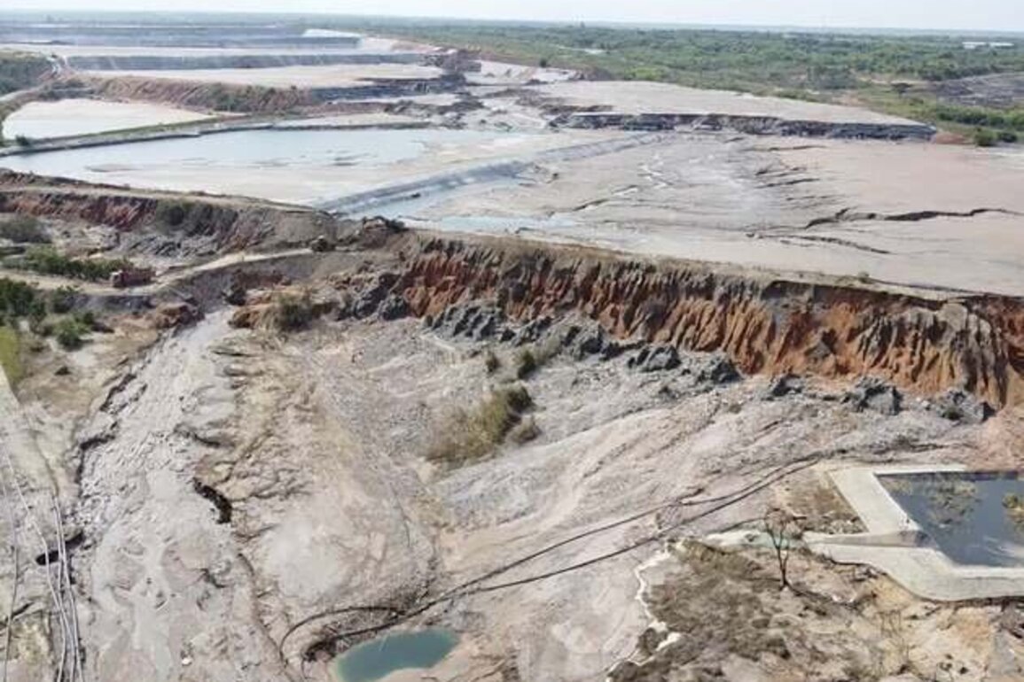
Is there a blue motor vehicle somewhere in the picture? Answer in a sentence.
No, the scene contains no blue motor vehicle.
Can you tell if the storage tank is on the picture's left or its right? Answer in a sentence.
It is on the right.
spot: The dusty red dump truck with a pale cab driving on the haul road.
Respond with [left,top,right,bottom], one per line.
[107,262,155,286]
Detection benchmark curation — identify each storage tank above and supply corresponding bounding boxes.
[801,467,1024,612]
